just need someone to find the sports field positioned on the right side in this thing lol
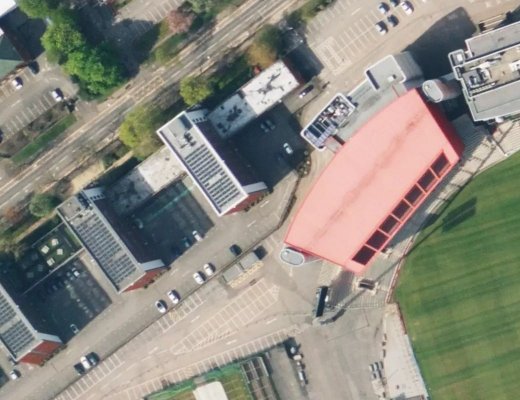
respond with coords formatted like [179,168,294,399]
[394,150,520,400]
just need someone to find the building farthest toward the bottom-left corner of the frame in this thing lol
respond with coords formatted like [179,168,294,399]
[0,283,67,362]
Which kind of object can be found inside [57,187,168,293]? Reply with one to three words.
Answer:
building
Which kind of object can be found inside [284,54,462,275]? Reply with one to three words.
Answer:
building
